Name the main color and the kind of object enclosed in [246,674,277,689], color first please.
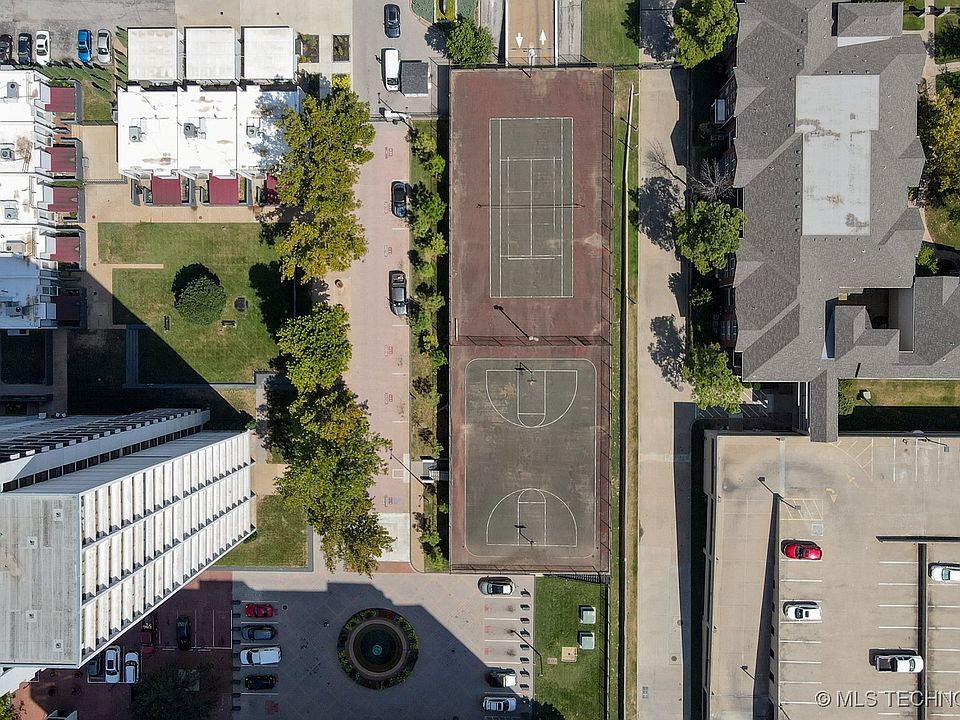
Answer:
black car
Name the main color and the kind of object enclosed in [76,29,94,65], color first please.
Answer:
blue car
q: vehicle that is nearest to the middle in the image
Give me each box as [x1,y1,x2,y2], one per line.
[390,274,407,315]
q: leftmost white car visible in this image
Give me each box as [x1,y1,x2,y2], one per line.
[34,31,52,67]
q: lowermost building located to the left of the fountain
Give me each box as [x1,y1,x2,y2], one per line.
[0,408,258,703]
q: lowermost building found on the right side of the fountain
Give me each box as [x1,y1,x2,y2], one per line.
[697,428,960,720]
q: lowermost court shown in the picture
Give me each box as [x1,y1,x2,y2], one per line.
[451,346,610,572]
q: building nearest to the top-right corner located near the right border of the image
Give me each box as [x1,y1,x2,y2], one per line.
[711,0,960,441]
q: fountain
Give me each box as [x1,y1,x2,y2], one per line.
[338,608,418,690]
